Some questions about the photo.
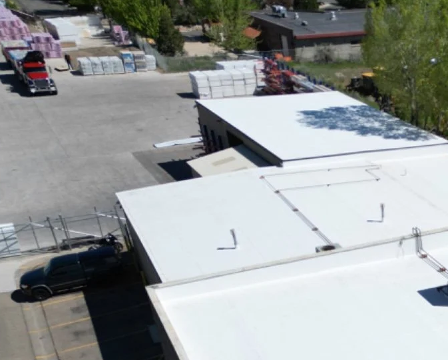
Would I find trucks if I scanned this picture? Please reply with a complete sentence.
Yes, the frame does contain a truck.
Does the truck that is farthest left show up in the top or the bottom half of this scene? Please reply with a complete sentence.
The truck that is farthest left is in the top half of the image.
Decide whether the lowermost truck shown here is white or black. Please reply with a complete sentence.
The lowermost truck is black.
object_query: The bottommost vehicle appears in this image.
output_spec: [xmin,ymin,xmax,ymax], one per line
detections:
[25,248,142,303]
